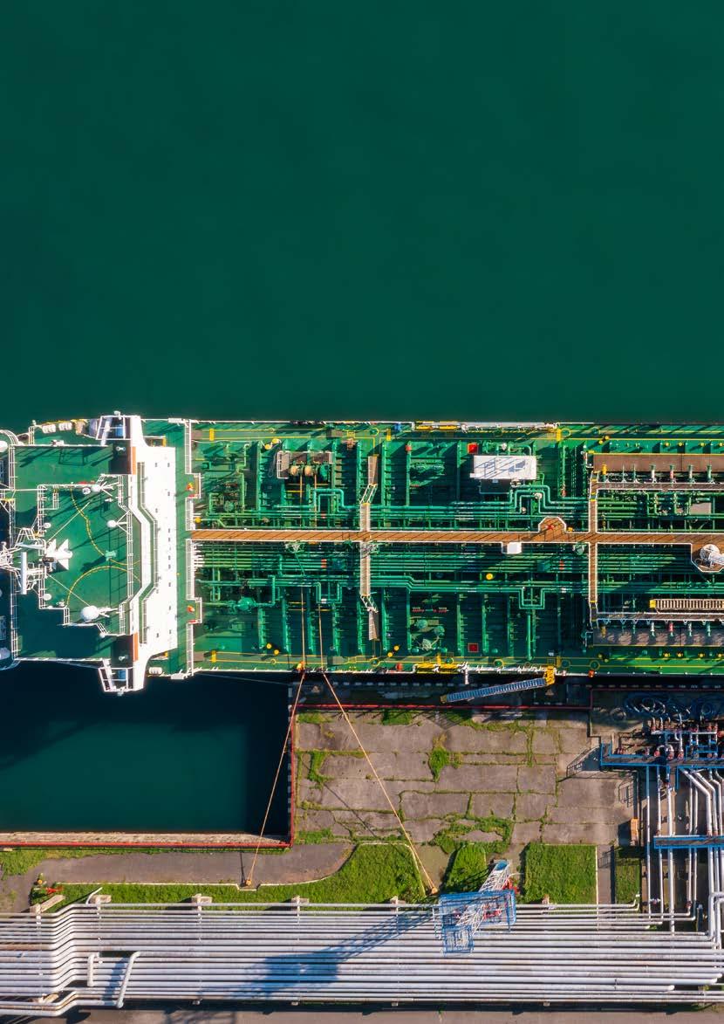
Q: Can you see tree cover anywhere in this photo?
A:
No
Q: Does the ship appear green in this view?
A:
Yes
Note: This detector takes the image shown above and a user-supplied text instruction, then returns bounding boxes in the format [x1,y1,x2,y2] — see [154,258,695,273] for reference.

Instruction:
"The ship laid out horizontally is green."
[0,411,724,696]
